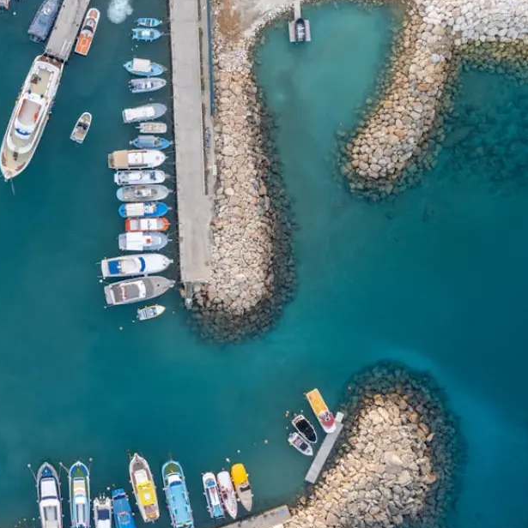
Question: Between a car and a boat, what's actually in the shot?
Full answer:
This aerial view contains a boat.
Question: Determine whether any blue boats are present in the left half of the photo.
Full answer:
Yes, there is a blue boat in the left half of the photo.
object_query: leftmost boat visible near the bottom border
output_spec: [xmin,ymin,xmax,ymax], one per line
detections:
[29,463,63,528]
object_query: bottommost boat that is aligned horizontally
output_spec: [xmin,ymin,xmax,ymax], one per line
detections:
[134,305,166,319]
